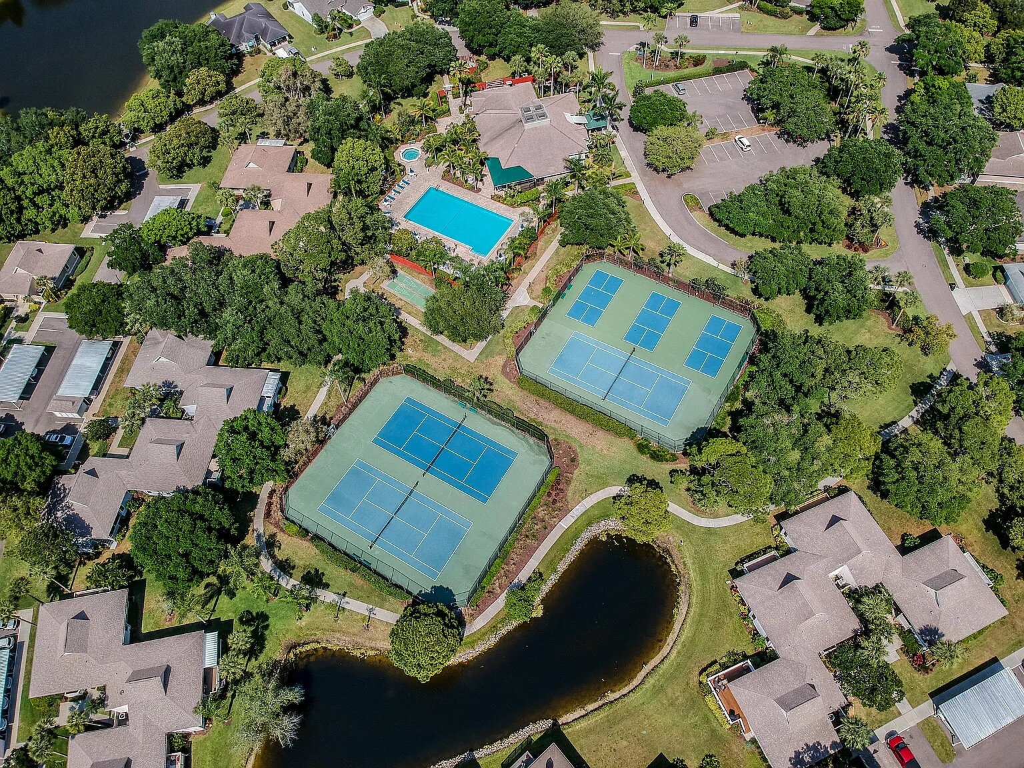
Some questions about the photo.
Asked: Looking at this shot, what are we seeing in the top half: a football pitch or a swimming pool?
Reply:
swimming pool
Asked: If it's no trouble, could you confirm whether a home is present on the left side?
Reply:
Yes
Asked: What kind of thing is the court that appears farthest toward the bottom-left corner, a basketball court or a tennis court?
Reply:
tennis court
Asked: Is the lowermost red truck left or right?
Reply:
right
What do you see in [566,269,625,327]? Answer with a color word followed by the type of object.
blue sports court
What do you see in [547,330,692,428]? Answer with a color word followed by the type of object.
blue tennis court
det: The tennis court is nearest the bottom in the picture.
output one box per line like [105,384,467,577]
[317,458,473,581]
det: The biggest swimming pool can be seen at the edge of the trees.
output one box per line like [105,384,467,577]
[402,184,517,258]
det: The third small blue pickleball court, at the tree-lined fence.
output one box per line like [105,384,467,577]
[684,314,743,378]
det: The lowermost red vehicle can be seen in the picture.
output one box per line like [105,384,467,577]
[886,730,923,768]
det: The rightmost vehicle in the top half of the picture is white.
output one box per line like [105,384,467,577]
[735,136,750,151]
